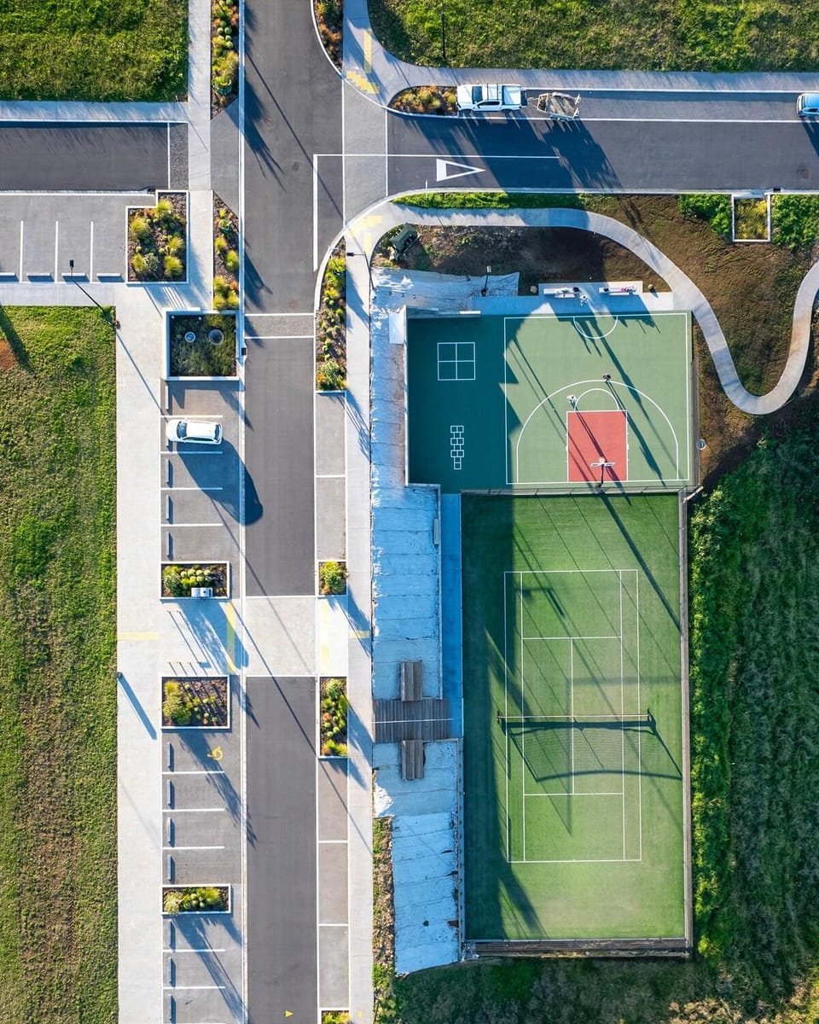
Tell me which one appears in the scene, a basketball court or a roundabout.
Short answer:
basketball court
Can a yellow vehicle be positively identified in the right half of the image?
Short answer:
No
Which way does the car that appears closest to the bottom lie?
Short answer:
horizontally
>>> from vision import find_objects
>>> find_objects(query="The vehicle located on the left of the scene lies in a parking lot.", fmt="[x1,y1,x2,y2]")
[167,415,223,445]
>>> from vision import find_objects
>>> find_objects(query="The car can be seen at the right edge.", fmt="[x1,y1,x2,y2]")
[799,84,819,112]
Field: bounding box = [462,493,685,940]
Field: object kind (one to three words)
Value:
tennis court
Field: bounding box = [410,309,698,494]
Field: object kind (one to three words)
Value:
basketball court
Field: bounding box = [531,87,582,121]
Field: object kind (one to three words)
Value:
trailer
